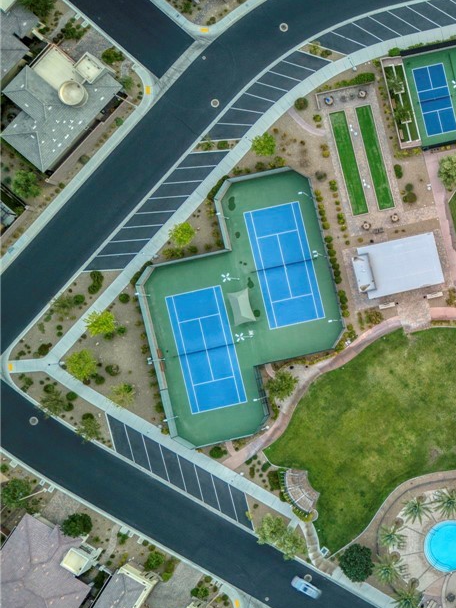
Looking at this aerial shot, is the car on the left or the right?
right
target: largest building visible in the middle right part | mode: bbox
[352,232,444,299]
